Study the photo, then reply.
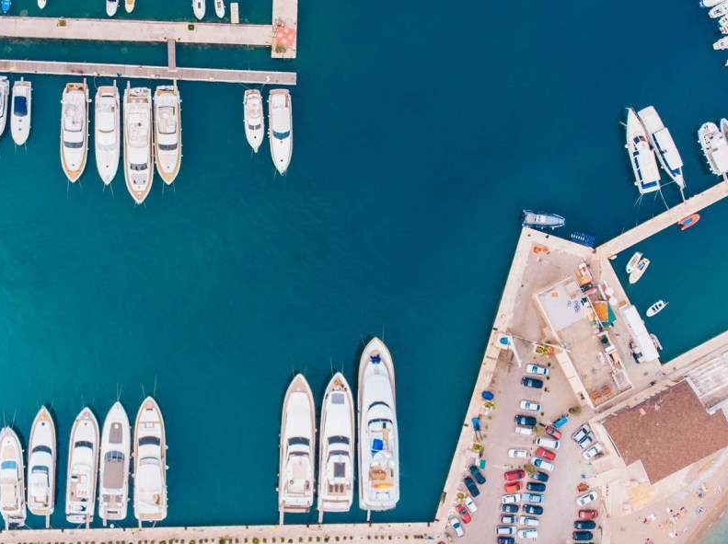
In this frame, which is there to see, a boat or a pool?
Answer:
boat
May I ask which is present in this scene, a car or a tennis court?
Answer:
car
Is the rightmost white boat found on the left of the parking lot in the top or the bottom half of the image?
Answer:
bottom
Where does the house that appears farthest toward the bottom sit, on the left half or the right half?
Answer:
right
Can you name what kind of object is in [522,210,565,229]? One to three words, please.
boat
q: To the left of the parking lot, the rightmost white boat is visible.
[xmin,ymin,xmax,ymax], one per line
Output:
[355,324,400,524]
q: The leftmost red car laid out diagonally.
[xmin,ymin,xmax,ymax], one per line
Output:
[454,503,473,524]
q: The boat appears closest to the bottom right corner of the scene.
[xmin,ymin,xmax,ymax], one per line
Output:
[651,334,664,353]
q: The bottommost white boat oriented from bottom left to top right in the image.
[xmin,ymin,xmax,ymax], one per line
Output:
[646,299,667,316]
